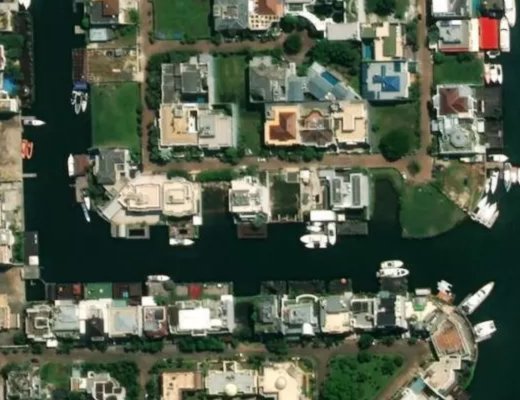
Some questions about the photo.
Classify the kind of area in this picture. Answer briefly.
residential area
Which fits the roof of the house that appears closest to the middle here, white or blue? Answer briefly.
white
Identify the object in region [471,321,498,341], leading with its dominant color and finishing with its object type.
white boat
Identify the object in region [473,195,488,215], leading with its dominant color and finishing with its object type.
white boat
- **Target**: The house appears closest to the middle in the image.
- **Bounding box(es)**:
[230,176,263,223]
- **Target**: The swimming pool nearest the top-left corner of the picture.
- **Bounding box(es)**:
[3,78,16,92]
